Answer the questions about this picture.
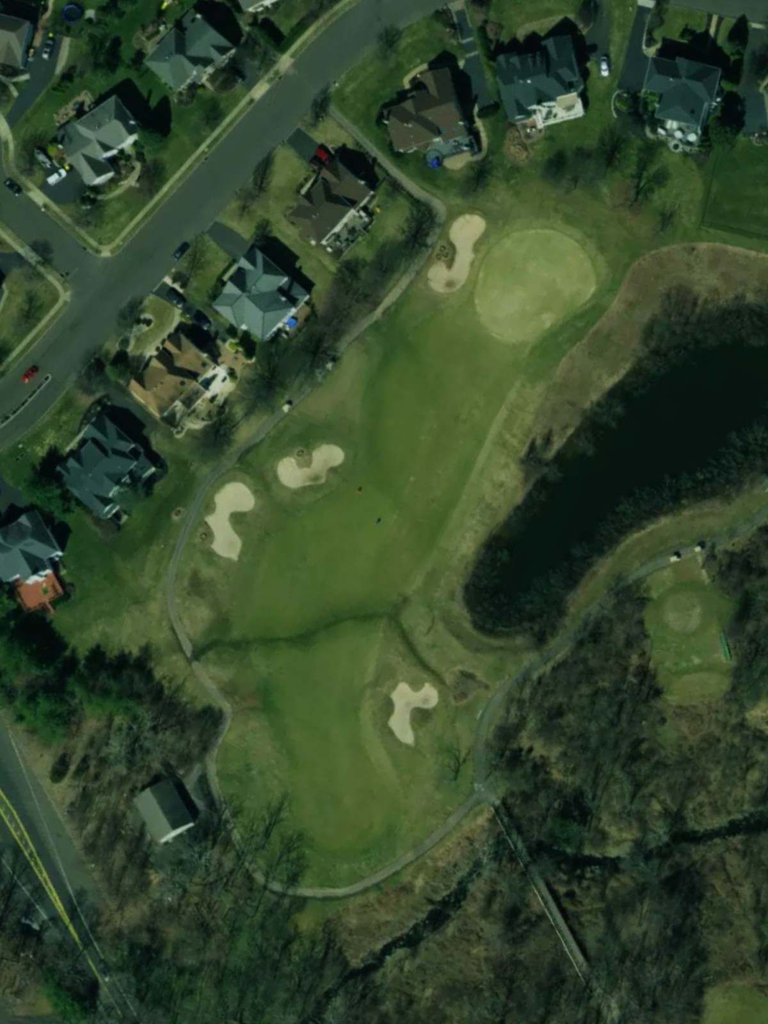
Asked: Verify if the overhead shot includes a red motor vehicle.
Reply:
Yes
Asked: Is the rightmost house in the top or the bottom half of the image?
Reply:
top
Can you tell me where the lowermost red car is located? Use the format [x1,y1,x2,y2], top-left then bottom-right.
[22,366,38,382]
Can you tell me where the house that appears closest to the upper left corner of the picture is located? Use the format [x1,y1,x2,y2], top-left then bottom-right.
[0,16,32,74]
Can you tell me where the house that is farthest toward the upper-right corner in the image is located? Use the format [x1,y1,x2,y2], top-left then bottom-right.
[645,51,720,145]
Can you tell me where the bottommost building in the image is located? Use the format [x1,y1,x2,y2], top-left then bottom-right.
[135,778,194,841]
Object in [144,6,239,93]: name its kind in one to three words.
house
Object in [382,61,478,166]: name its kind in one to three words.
house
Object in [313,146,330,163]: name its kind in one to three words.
car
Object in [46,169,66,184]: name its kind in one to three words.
car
